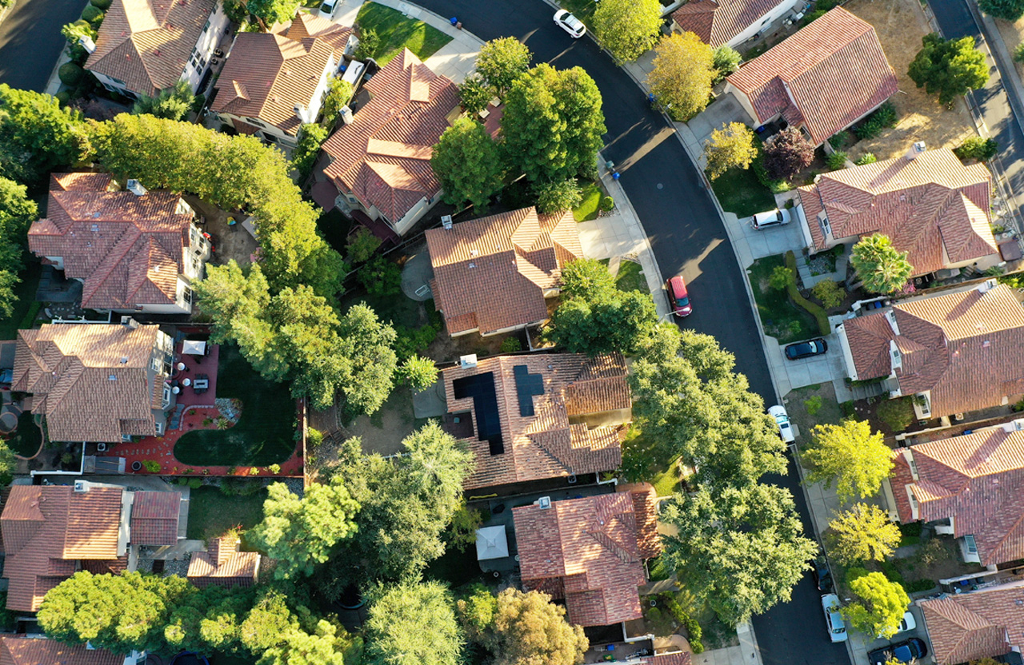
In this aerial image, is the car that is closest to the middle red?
Yes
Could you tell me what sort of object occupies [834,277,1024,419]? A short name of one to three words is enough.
house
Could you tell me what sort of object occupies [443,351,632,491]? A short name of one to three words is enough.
house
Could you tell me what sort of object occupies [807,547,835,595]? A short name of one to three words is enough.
car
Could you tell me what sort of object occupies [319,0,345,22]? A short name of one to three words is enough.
car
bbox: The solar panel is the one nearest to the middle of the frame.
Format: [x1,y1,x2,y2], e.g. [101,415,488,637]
[514,364,545,416]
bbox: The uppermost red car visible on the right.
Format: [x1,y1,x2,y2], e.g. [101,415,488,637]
[666,274,693,318]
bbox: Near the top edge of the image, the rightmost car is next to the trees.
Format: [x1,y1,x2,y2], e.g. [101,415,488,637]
[550,7,587,41]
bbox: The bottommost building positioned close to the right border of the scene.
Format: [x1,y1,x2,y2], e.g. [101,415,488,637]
[907,580,1024,665]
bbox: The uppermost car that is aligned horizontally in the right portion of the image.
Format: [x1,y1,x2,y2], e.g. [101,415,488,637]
[749,205,793,230]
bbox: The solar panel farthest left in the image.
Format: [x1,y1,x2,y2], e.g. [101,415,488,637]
[452,372,503,456]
